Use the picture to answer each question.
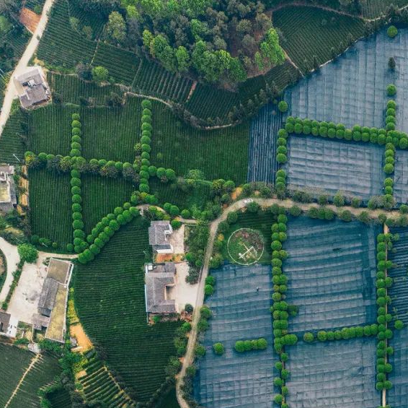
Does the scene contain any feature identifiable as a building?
Yes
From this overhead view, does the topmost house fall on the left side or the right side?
left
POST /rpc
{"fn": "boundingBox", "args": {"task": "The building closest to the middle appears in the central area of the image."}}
[149,219,176,257]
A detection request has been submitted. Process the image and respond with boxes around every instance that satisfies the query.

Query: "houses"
[0,166,18,213]
[0,312,17,338]
[149,219,176,257]
[15,70,49,110]
[31,258,75,344]
[145,263,177,315]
